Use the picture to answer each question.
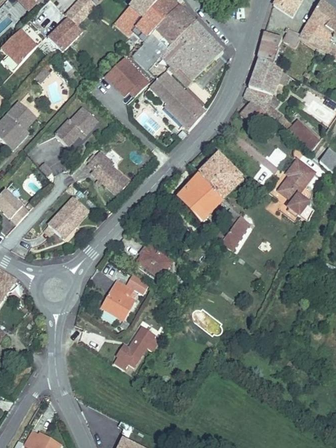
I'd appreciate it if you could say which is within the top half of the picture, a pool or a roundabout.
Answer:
pool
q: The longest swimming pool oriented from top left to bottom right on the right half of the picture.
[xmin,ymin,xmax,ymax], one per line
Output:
[192,308,224,338]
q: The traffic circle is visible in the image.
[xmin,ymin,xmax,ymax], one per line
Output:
[20,258,86,345]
